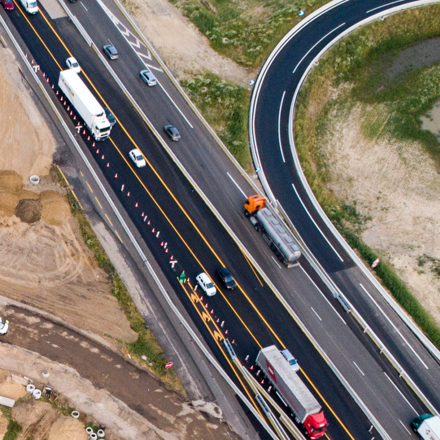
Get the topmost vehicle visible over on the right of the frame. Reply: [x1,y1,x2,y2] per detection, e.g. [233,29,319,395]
[247,195,303,266]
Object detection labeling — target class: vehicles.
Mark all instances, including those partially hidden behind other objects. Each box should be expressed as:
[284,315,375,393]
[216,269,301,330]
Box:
[216,269,238,293]
[64,56,82,74]
[407,408,440,440]
[162,125,183,144]
[0,0,14,11]
[103,106,118,128]
[0,315,10,335]
[102,45,120,63]
[58,67,113,143]
[139,71,159,89]
[280,347,302,374]
[194,273,217,299]
[16,0,37,18]
[247,195,303,266]
[255,345,330,440]
[128,150,147,170]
